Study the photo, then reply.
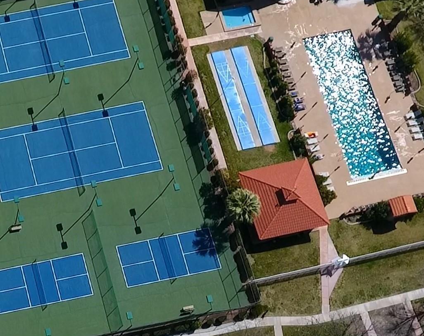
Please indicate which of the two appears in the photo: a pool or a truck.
pool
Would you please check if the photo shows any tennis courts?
Yes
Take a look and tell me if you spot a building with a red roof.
Yes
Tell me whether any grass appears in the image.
Yes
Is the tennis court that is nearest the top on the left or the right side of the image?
left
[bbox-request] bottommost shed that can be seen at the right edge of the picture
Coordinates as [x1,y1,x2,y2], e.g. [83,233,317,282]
[383,195,418,221]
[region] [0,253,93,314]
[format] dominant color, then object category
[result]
blue sports court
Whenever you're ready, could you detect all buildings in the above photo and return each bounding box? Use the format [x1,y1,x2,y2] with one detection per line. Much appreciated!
[238,159,331,240]
[383,195,418,221]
